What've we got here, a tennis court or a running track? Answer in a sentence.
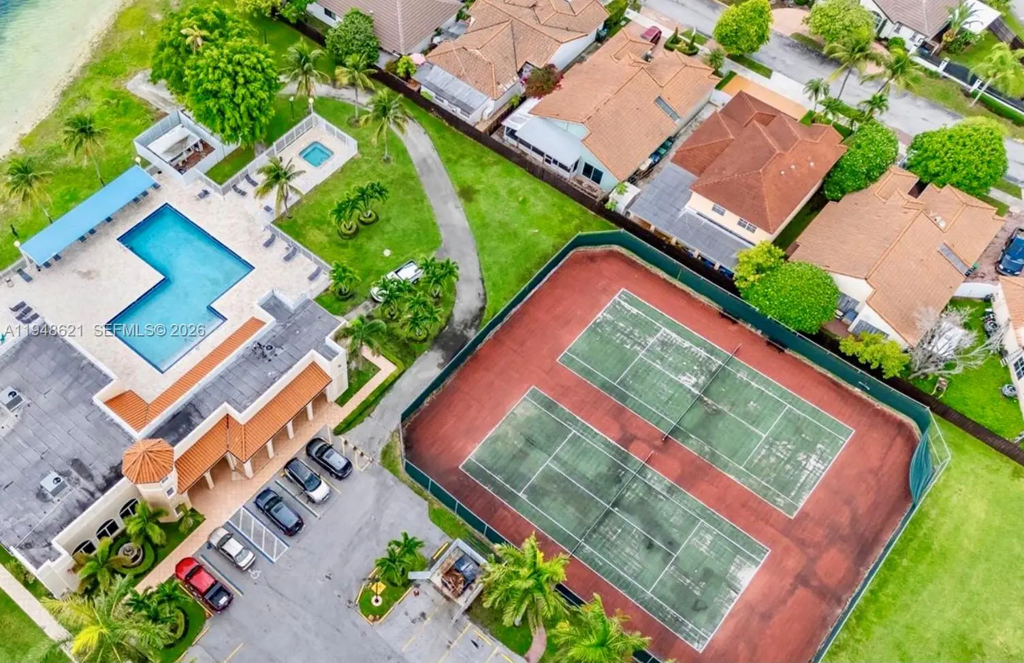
There is a tennis court in the scene.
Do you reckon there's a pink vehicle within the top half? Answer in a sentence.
Yes, within the top half there is a pink vehicle.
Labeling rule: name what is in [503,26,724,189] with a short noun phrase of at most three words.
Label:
house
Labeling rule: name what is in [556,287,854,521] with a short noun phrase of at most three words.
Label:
tennis court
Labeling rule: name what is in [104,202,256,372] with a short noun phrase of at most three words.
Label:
swimming pool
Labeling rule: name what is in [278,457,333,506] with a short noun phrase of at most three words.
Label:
car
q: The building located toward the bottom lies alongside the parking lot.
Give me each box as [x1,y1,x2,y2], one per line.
[0,292,349,600]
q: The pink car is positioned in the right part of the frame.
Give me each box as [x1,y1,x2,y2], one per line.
[637,22,668,51]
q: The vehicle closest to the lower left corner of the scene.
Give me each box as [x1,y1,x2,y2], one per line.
[172,553,239,618]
